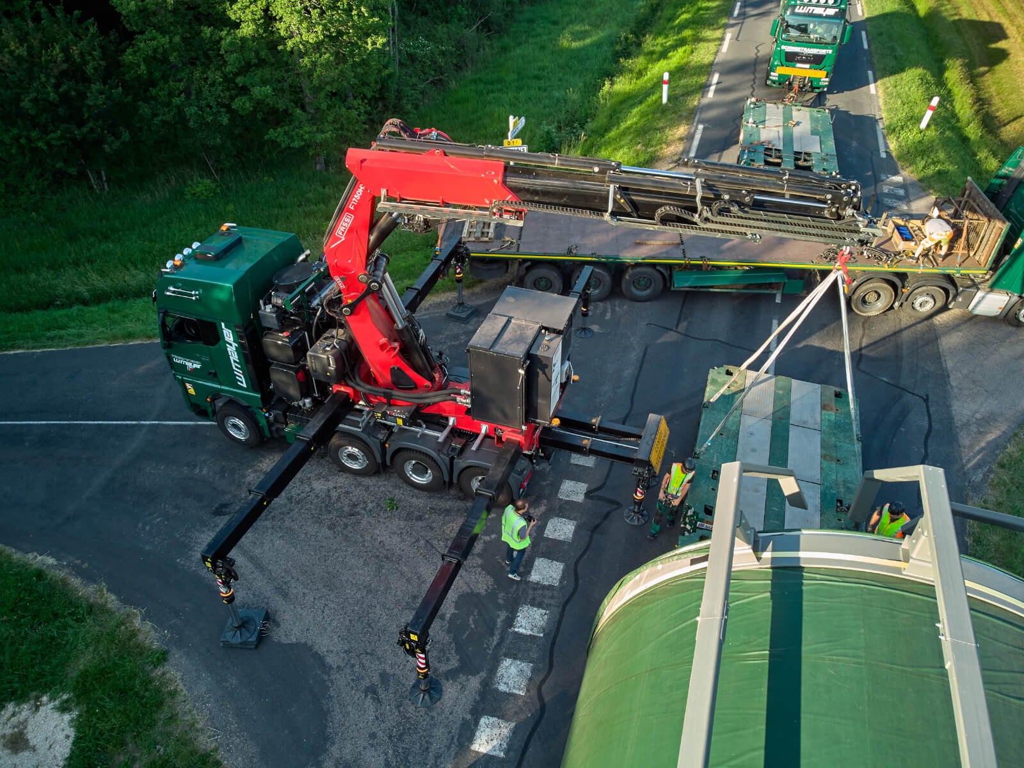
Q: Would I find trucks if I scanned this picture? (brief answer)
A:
Yes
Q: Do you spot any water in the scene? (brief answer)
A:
No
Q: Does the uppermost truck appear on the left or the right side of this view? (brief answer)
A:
right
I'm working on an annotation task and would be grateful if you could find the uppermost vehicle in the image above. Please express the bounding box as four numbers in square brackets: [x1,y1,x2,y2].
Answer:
[767,0,859,93]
